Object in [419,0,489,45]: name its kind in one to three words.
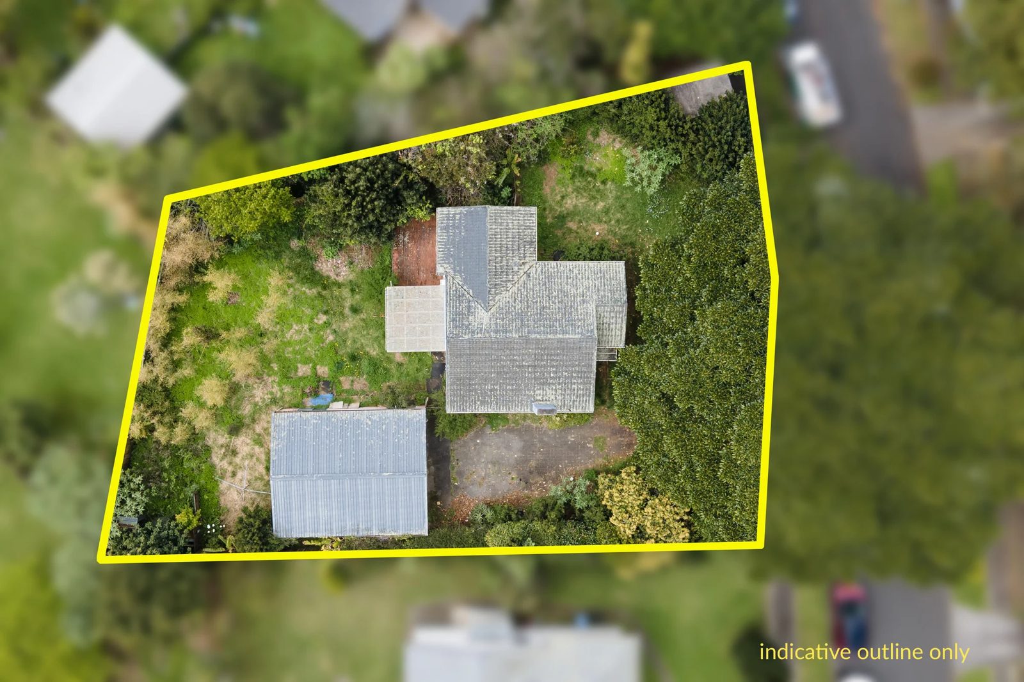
house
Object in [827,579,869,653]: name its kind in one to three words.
car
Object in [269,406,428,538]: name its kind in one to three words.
building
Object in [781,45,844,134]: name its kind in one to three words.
van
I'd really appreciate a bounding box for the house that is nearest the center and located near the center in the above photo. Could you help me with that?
[435,201,631,415]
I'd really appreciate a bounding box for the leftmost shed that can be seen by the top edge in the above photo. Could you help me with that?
[53,23,189,156]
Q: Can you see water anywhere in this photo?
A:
No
